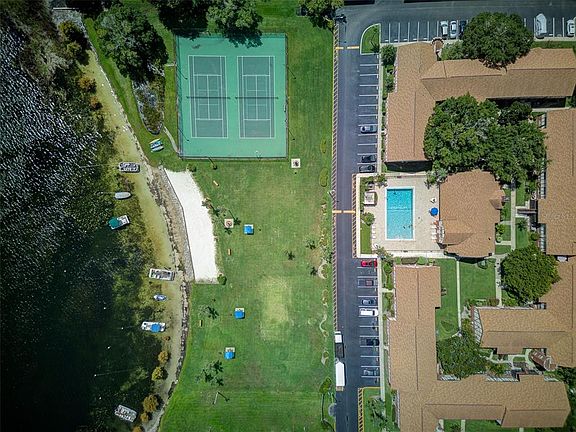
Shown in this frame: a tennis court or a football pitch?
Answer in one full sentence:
It is a tennis court that can be seen here.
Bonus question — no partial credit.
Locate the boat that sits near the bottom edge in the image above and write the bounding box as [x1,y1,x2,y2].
[114,404,137,422]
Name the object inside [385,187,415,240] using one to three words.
swimming pool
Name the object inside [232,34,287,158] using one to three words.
tennis court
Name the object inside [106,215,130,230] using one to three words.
boat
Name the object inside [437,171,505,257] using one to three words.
building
